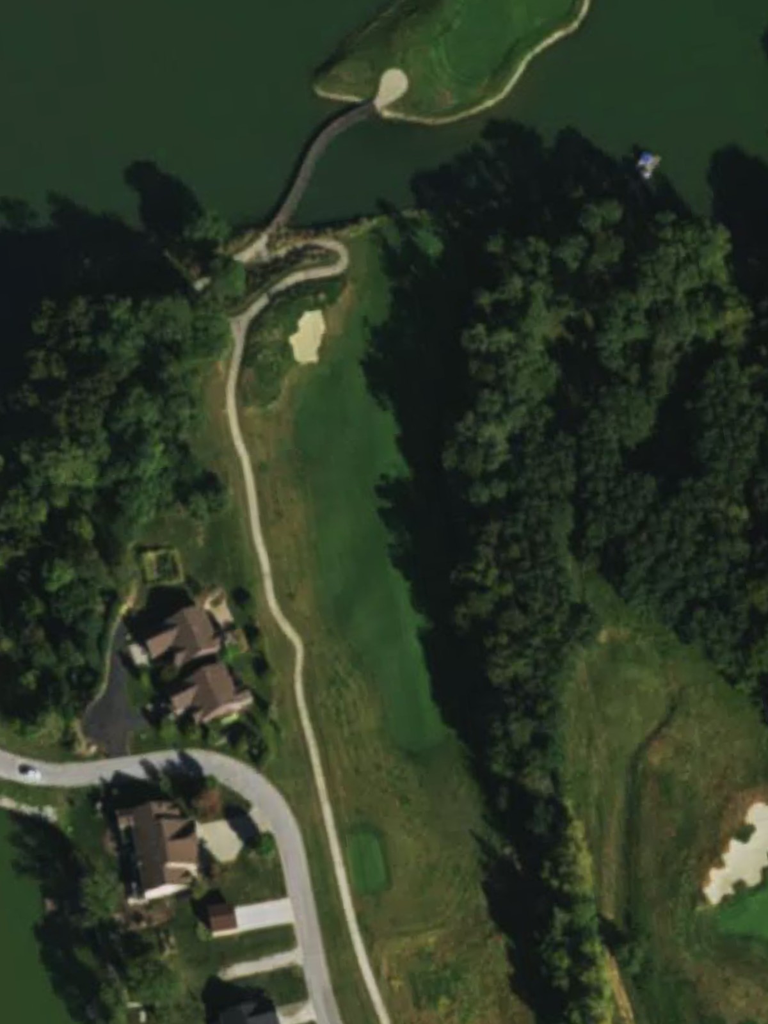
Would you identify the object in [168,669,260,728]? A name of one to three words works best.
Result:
house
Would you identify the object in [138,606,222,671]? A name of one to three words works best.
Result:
house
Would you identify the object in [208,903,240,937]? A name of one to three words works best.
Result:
building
